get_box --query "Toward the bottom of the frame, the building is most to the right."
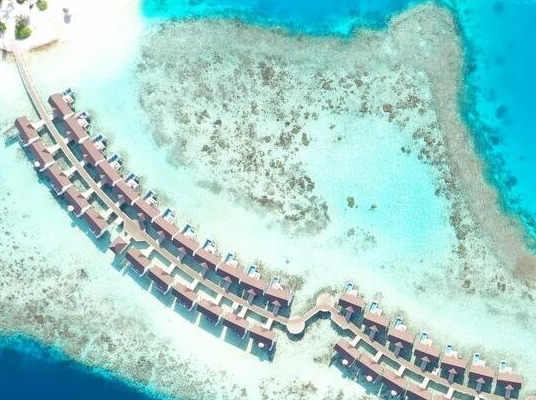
[495,366,523,399]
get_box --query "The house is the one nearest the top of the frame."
[47,93,77,124]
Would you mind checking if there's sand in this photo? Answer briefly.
Yes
